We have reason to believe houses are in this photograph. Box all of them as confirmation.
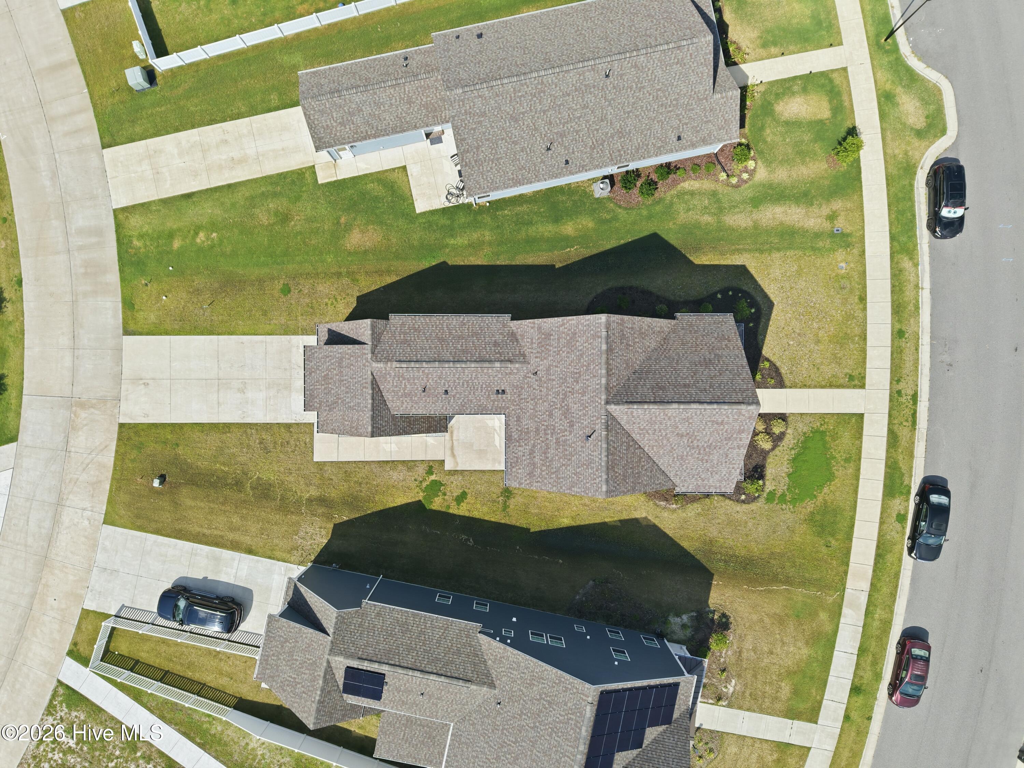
[299,0,742,204]
[303,313,759,498]
[253,564,709,768]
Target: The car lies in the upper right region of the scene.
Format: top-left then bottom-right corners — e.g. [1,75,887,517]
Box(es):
[925,163,968,240]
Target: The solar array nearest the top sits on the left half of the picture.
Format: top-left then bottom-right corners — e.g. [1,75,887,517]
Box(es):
[343,669,383,699]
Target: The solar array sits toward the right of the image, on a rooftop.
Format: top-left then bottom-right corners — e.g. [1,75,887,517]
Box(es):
[585,686,672,768]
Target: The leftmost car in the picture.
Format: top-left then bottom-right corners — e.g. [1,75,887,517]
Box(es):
[157,586,240,635]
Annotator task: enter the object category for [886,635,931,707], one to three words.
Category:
car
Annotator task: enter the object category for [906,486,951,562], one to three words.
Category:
car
